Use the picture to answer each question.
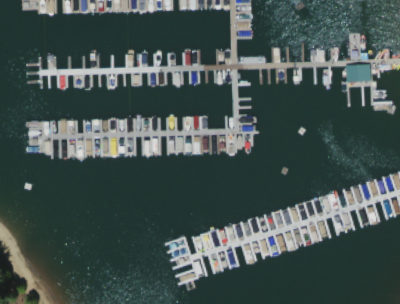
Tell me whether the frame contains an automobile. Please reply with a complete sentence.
No, there isn't any automobile down there.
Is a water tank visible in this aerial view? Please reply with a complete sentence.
No, no water tank is visible in the view.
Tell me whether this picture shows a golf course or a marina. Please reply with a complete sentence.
The picture captures a marina.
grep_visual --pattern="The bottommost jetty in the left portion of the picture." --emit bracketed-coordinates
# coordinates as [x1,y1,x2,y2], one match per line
[28,116,260,158]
